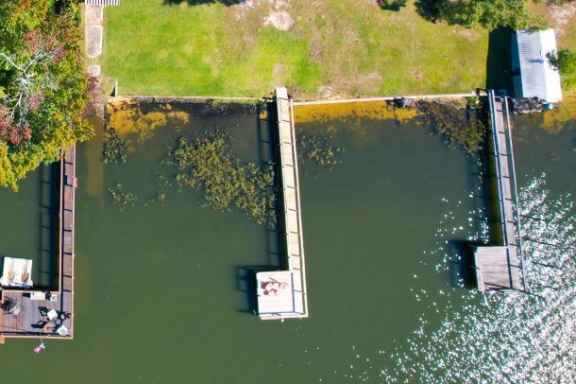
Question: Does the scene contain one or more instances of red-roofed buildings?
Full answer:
No, the picture doesn't show any red-roofed building.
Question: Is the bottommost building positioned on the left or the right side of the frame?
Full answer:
The bottommost building sits on the right side.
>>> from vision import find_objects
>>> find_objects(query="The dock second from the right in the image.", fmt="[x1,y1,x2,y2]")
[253,87,310,319]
